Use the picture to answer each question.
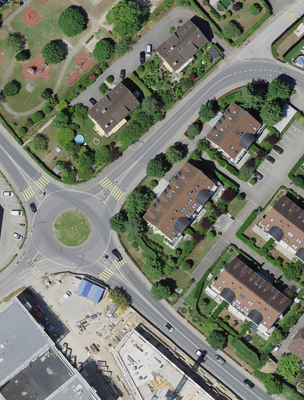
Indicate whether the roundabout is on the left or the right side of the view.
left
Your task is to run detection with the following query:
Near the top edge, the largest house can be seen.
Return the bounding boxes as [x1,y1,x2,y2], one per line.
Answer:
[156,20,210,74]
